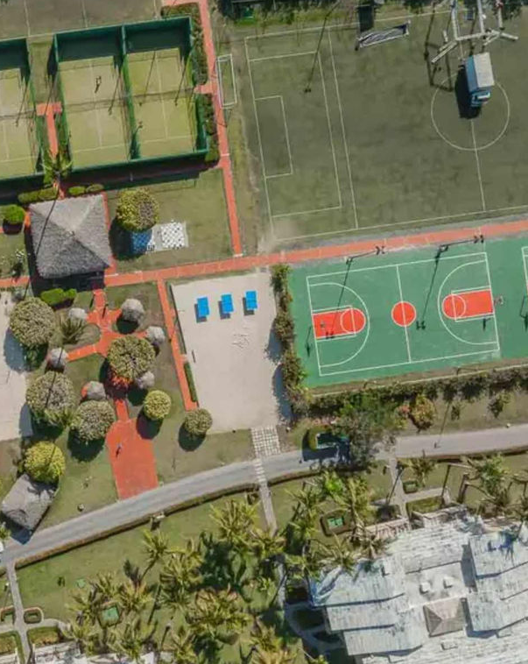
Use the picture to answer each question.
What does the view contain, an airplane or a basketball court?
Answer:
basketball court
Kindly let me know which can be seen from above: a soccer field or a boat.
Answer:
soccer field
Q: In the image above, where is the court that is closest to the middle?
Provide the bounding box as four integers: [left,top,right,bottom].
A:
[306,253,505,375]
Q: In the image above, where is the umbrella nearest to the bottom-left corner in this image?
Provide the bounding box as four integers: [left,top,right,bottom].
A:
[83,379,105,402]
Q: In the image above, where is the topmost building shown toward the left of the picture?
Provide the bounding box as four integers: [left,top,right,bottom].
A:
[27,194,113,281]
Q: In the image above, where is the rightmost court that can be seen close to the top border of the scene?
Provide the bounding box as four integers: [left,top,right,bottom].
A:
[118,27,199,159]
